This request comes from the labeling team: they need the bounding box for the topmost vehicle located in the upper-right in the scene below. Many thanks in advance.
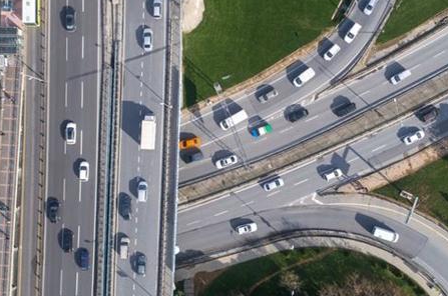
[362,0,378,16]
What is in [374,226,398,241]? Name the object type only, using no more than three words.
vehicle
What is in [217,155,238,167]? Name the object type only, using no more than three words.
vehicle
